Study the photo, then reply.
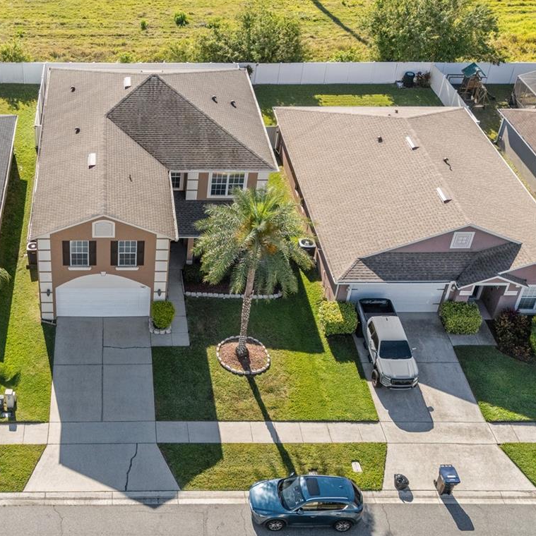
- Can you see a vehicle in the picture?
Yes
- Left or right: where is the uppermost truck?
right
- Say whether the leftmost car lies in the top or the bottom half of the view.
bottom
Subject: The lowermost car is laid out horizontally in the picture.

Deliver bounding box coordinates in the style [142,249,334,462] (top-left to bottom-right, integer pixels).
[248,475,369,536]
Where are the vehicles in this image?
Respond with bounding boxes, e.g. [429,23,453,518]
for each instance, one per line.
[356,298,427,394]
[248,475,369,536]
